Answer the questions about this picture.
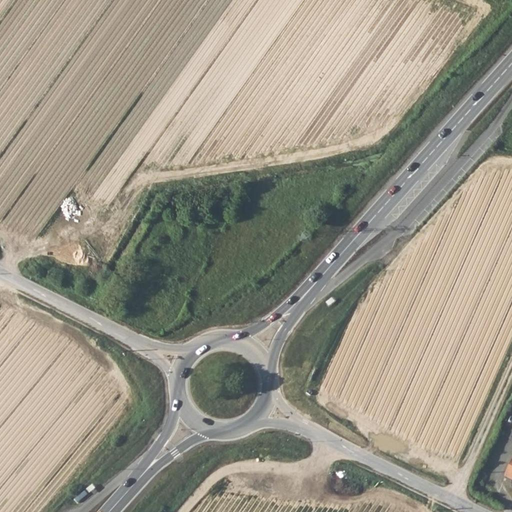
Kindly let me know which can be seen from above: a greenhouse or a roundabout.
roundabout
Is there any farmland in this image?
Yes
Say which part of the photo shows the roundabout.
bottom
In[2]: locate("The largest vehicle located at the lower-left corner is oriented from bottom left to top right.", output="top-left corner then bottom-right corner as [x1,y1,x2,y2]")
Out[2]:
[76,484,96,500]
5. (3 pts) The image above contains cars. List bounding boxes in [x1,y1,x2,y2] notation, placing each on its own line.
[310,272,320,282]
[268,314,278,322]
[288,296,297,305]
[472,91,482,102]
[196,345,206,355]
[325,253,335,263]
[202,418,214,424]
[439,128,450,138]
[388,186,398,195]
[124,478,134,488]
[182,368,190,379]
[408,162,418,172]
[355,223,364,233]
[172,400,178,410]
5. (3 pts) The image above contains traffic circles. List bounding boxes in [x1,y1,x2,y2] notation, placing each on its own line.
[143,300,302,471]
